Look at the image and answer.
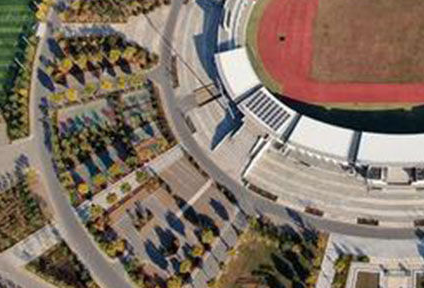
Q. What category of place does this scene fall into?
sports ground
